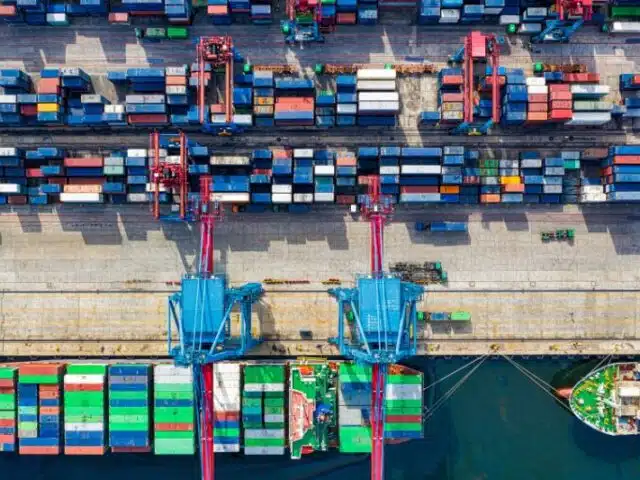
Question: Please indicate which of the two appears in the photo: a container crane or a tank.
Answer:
container crane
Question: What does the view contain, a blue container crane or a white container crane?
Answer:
blue container crane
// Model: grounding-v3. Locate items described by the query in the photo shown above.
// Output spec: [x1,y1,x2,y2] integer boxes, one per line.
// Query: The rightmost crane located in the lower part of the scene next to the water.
[326,170,428,480]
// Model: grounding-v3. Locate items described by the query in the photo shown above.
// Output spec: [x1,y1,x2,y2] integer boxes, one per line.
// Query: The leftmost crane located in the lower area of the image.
[163,170,264,480]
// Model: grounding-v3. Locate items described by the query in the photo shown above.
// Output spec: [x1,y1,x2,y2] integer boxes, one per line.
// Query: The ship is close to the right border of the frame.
[556,360,640,438]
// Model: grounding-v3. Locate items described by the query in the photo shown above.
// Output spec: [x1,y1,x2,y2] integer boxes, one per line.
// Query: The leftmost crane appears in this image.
[151,132,201,226]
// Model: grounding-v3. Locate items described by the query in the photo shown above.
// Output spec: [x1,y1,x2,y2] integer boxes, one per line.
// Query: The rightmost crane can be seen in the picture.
[535,0,592,41]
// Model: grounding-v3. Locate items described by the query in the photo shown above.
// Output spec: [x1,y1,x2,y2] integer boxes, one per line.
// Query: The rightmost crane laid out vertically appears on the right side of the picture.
[451,29,501,135]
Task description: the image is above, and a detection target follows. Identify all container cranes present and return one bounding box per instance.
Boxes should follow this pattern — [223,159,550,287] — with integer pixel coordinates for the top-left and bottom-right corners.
[326,170,428,480]
[198,35,244,136]
[163,170,264,480]
[151,132,201,226]
[535,0,592,41]
[451,29,501,135]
